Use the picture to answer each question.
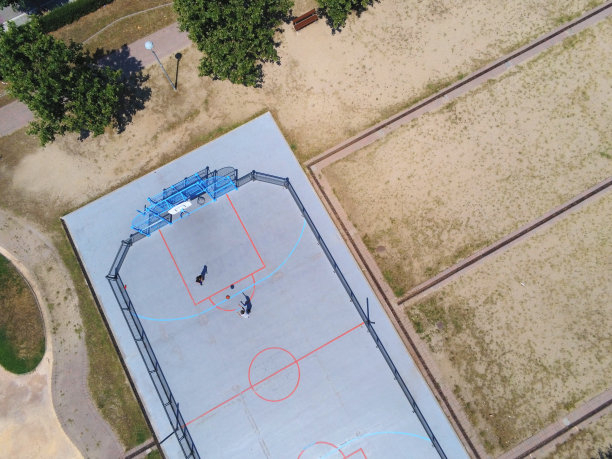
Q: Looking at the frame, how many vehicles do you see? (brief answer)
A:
0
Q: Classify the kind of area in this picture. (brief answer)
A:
sports ground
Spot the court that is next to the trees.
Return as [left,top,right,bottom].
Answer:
[63,111,470,459]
